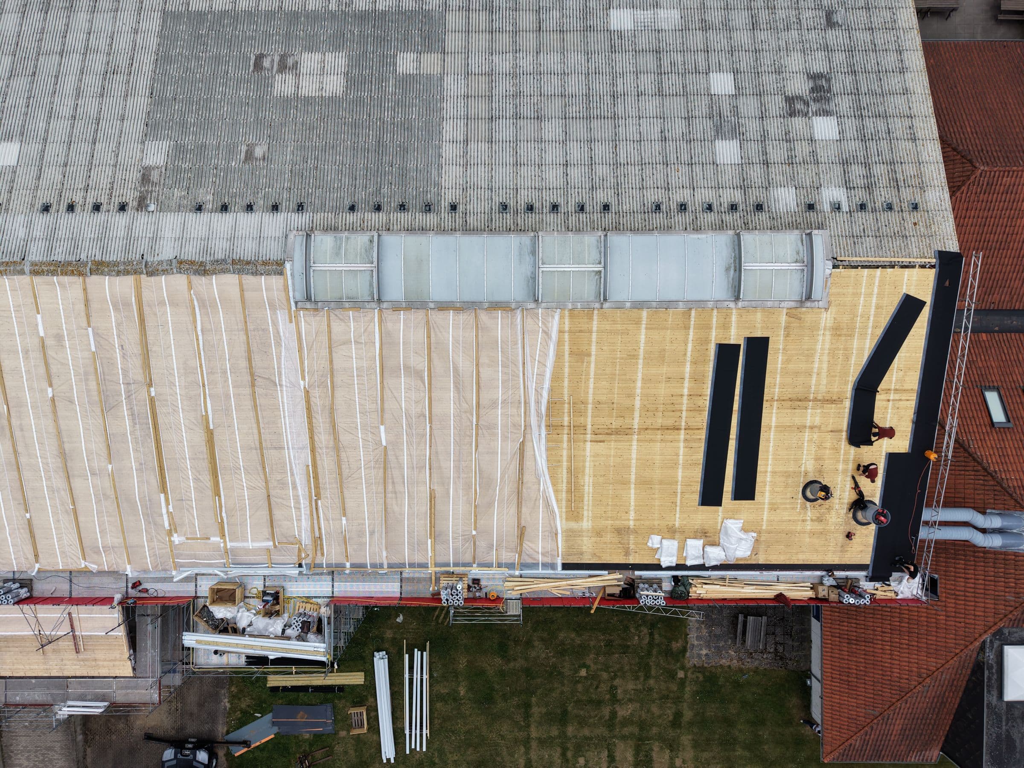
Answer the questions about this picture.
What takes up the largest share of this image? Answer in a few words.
buildings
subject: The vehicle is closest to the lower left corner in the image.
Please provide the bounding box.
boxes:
[140,730,254,768]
